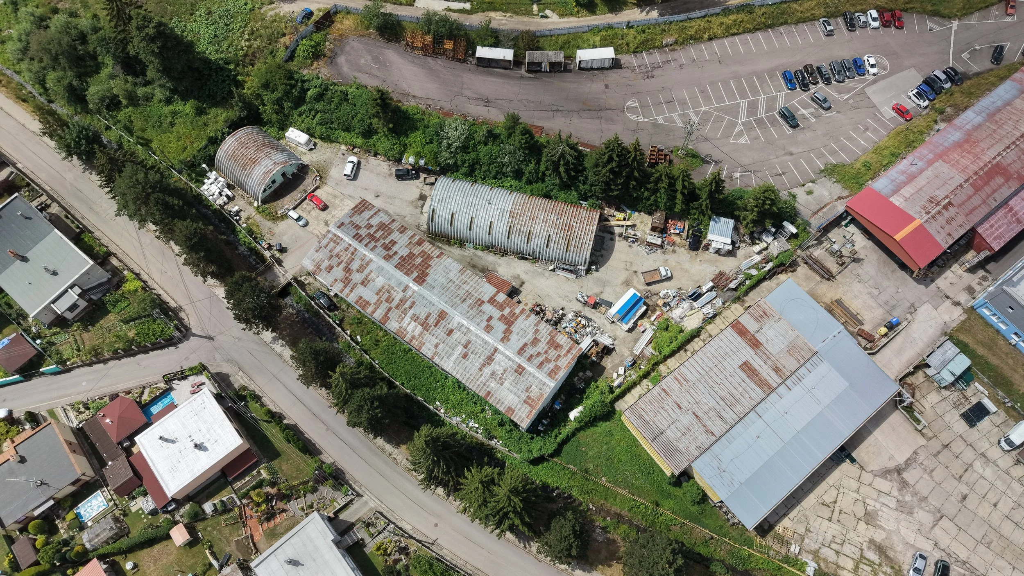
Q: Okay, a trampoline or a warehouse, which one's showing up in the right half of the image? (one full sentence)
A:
You can see a warehouse in the right half of the image.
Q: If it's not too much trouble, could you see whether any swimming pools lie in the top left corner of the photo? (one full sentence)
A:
No, there is no swimming pool in the top left corner of the photo.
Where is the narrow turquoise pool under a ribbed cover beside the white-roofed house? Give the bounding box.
[140,391,177,421]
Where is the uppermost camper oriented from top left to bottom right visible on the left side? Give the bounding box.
[283,125,316,151]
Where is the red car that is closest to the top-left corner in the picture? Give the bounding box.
[305,193,326,212]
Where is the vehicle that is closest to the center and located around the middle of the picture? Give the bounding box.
[578,291,611,310]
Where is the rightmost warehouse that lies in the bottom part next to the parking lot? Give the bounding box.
[618,278,900,531]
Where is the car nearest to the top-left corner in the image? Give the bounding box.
[295,5,314,25]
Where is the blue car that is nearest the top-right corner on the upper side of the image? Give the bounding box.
[915,82,937,101]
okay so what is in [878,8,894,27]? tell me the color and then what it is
red car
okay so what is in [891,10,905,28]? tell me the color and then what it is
red car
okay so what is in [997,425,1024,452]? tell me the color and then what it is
white vehicle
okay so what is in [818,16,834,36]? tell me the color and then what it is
gray car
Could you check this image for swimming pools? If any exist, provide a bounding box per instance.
[140,391,177,421]
[74,491,108,523]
